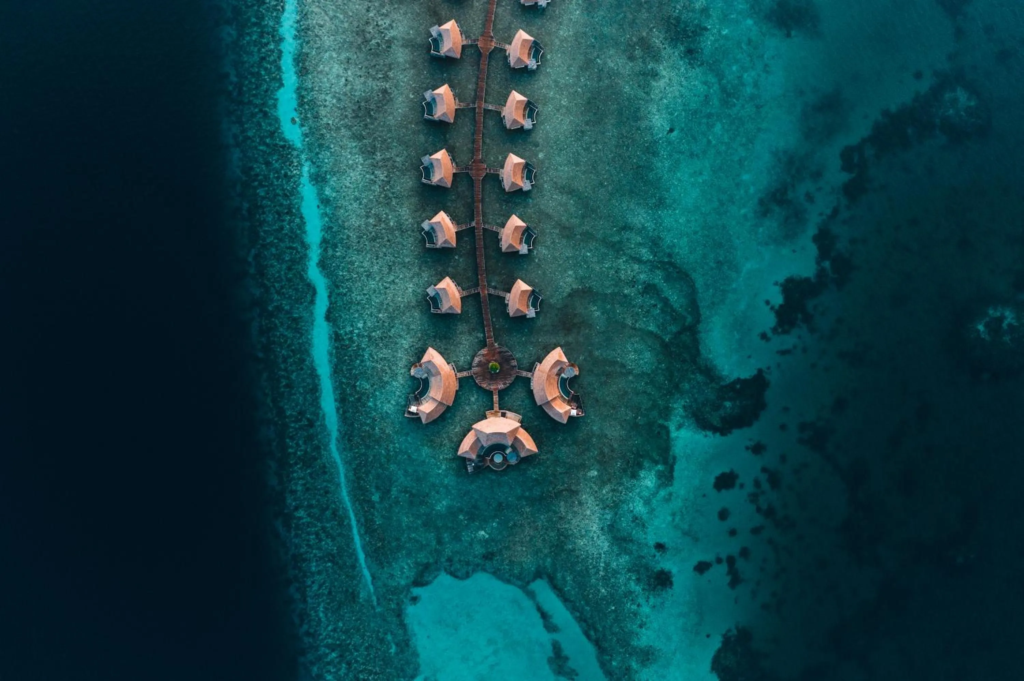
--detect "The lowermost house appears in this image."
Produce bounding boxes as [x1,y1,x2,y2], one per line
[457,410,538,474]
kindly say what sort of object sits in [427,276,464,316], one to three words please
house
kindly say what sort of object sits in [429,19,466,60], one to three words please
house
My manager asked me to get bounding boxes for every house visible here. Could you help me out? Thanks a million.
[420,149,457,188]
[506,29,544,70]
[457,410,538,474]
[498,214,537,253]
[404,347,459,424]
[427,276,464,316]
[498,152,536,191]
[500,90,538,130]
[422,210,458,251]
[504,279,543,317]
[422,83,460,124]
[530,347,584,424]
[429,19,466,60]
